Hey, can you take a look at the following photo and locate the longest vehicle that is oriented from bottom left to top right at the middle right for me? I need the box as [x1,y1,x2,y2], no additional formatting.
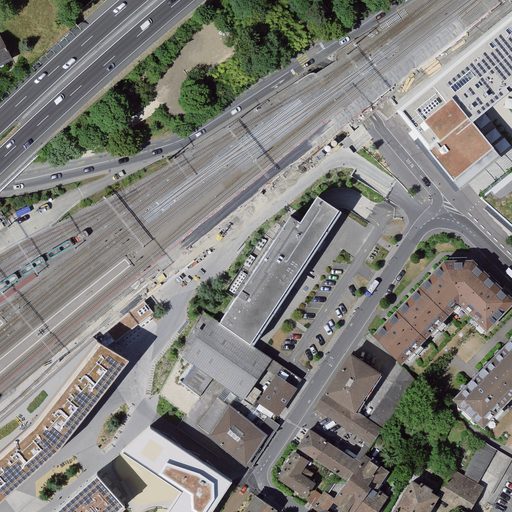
[366,278,382,296]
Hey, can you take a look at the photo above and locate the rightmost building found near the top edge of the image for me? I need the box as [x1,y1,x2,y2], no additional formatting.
[396,11,512,188]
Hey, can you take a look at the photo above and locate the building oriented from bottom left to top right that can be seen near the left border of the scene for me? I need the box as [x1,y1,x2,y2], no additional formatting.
[0,339,132,498]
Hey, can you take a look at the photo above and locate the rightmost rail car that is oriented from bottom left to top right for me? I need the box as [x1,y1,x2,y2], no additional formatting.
[74,230,91,244]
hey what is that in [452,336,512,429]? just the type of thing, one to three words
building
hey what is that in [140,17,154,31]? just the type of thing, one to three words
vehicle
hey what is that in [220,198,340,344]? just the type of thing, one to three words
building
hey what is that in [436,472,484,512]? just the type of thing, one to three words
house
